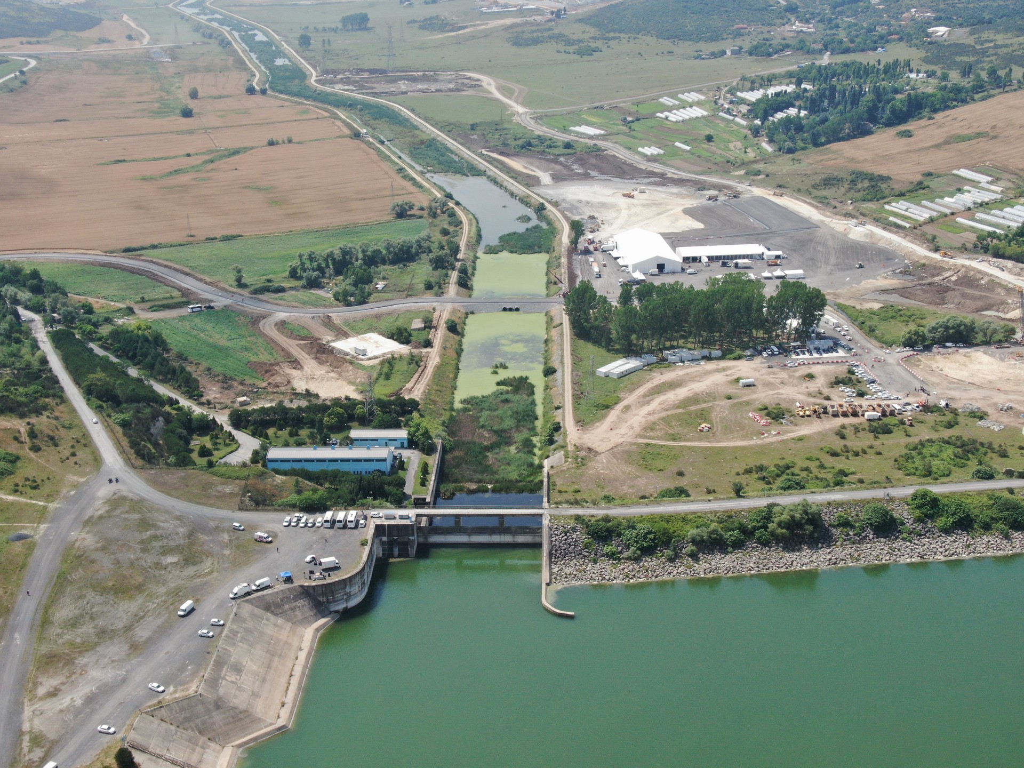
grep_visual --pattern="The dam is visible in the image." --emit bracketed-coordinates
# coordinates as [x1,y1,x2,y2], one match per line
[423,520,542,543]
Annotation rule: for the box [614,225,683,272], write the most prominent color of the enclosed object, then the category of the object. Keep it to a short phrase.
white tent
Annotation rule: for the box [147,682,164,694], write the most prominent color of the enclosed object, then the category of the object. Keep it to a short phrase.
white vehicle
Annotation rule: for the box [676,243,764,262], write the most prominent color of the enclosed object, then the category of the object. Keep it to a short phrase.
white tent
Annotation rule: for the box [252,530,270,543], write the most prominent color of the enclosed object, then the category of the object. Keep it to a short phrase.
white vehicle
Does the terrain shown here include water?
Yes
